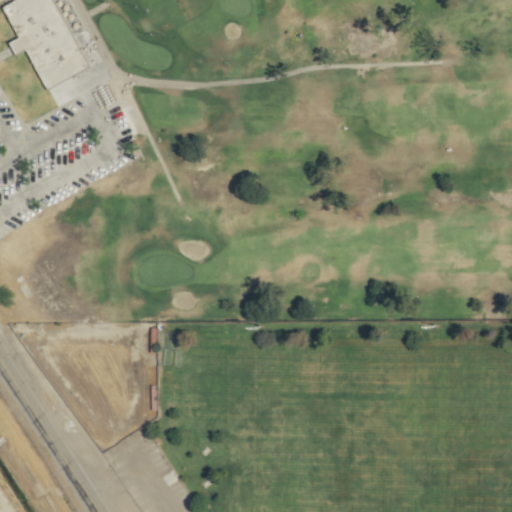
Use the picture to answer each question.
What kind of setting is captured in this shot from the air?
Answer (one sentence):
The area seen from above is a golf course.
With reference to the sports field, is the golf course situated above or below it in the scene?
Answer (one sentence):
In the image, the golf course sits above the sports field.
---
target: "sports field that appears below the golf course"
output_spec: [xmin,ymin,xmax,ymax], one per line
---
[154,323,512,512]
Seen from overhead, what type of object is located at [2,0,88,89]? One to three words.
building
